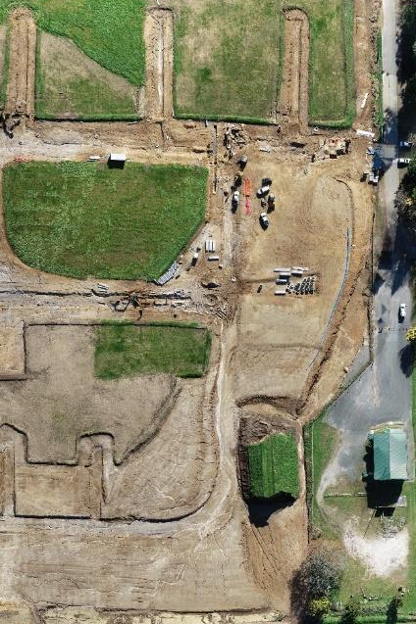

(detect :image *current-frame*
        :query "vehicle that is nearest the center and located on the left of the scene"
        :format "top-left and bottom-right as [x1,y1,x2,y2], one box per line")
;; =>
[127,289,144,309]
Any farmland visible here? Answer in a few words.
Yes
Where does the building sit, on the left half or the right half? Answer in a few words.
right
